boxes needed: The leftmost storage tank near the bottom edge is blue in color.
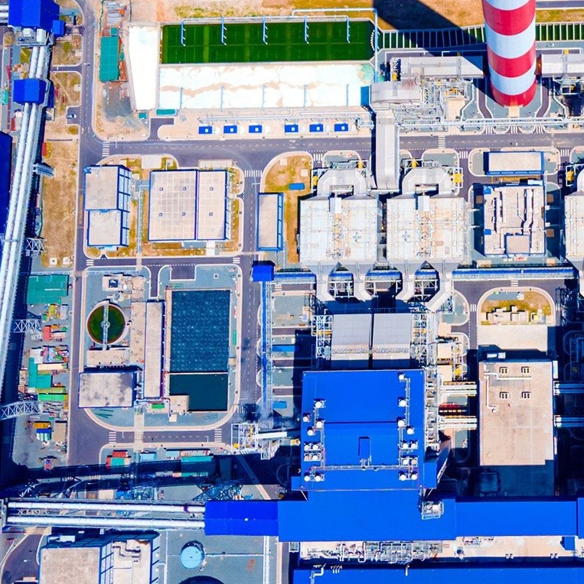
[179,541,208,571]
